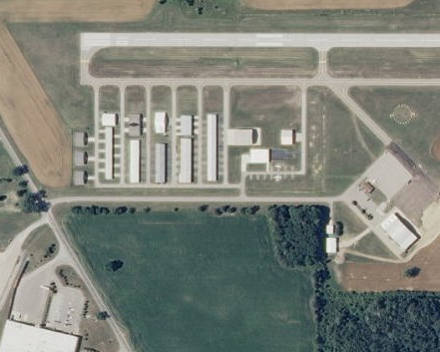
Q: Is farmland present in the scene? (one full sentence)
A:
Yes, some farmland is visible.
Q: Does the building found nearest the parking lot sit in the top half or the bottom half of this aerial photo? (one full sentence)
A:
Seen from above, the building found nearest the parking lot lies in the bottom half of the view.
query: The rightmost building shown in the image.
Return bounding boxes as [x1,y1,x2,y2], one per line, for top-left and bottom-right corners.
[382,212,417,248]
